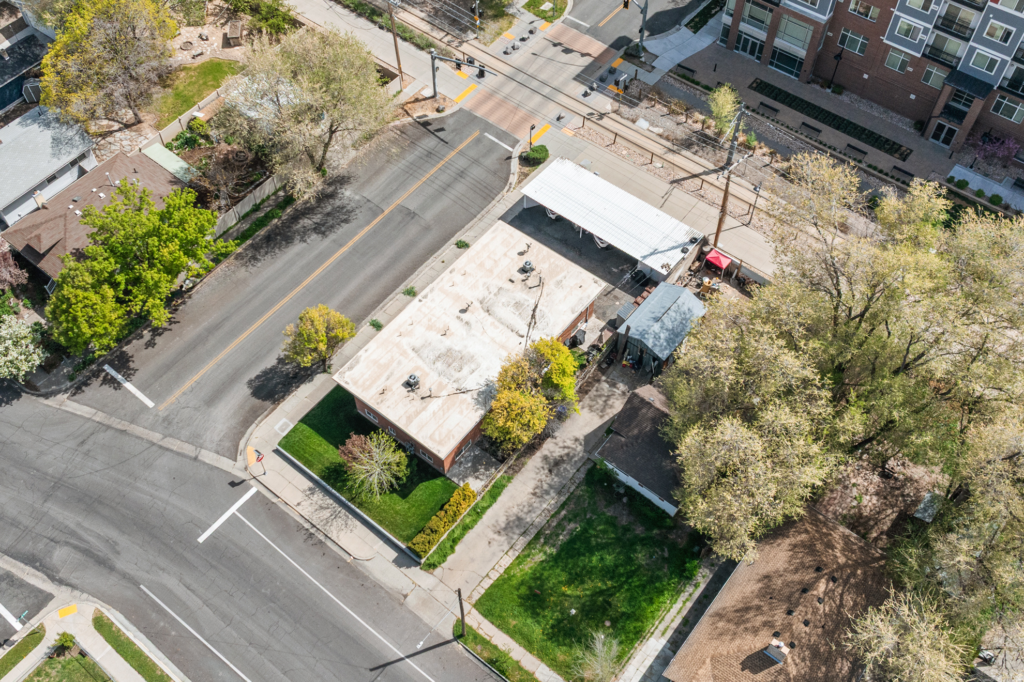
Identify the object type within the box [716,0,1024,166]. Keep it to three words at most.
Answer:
building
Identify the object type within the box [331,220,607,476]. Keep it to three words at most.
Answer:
building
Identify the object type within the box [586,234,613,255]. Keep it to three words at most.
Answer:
car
